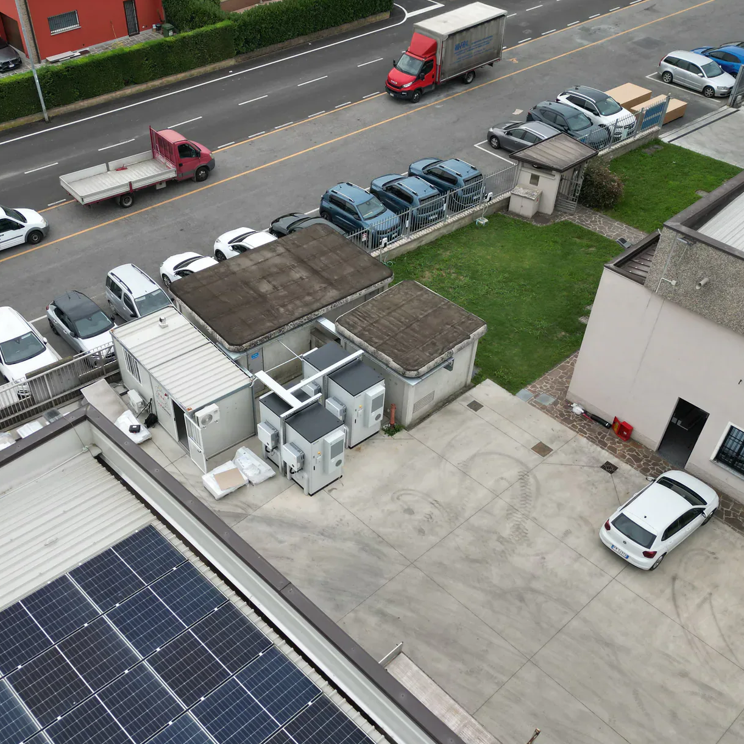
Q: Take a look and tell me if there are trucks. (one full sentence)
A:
Yes, a truck can be made out from above.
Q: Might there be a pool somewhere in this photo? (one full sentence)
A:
No, no pool can be seen from above.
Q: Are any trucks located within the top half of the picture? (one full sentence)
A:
Yes, a truck is visible within the top half of the picture.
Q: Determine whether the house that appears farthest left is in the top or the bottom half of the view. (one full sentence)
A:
You can find the house that appears farthest left in the top half.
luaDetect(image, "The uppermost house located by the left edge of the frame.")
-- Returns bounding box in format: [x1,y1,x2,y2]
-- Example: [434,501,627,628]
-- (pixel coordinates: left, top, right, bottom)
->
[0,0,130,64]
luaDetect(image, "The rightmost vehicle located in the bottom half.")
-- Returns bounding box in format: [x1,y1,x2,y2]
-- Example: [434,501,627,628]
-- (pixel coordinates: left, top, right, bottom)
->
[594,469,723,574]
